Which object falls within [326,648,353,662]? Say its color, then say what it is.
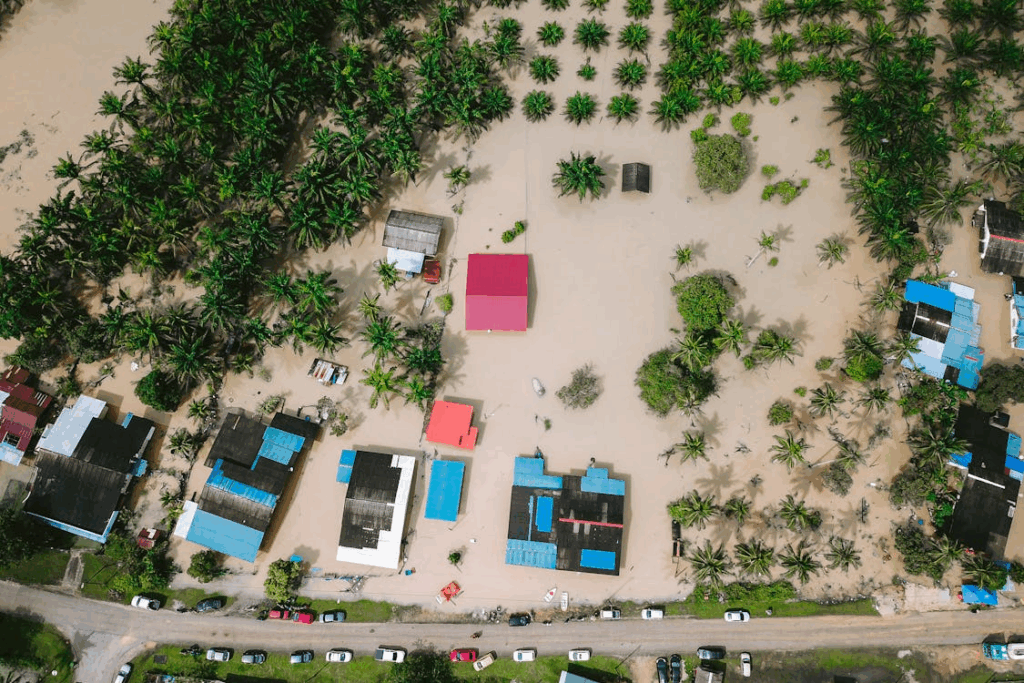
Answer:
white car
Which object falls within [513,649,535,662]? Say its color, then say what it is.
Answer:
white vehicle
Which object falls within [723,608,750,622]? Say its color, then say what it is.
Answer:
white car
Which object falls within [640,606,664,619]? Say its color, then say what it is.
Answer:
white vehicle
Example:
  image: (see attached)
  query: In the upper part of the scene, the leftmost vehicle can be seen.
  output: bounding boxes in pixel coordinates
[425,256,439,286]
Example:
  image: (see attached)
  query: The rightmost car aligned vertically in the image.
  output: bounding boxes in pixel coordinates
[738,649,752,677]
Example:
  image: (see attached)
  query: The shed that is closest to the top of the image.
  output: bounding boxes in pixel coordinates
[622,162,649,193]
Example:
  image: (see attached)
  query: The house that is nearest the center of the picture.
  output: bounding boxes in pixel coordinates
[466,254,528,333]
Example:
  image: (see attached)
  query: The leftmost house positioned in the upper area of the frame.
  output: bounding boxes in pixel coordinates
[382,210,443,273]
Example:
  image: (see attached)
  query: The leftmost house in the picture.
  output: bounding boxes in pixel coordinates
[0,365,60,466]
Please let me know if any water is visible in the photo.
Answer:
Yes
